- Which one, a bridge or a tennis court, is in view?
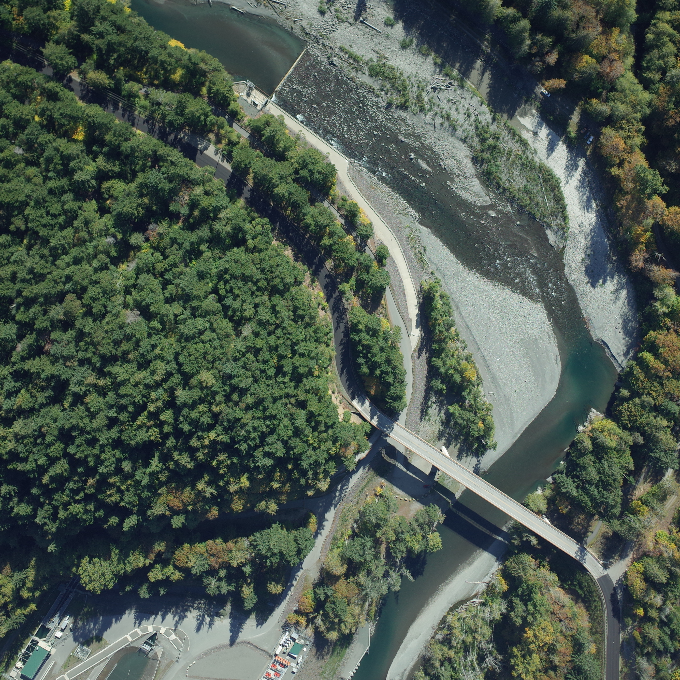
bridge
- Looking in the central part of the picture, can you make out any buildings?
No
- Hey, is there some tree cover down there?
Yes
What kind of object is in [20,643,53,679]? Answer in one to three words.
building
